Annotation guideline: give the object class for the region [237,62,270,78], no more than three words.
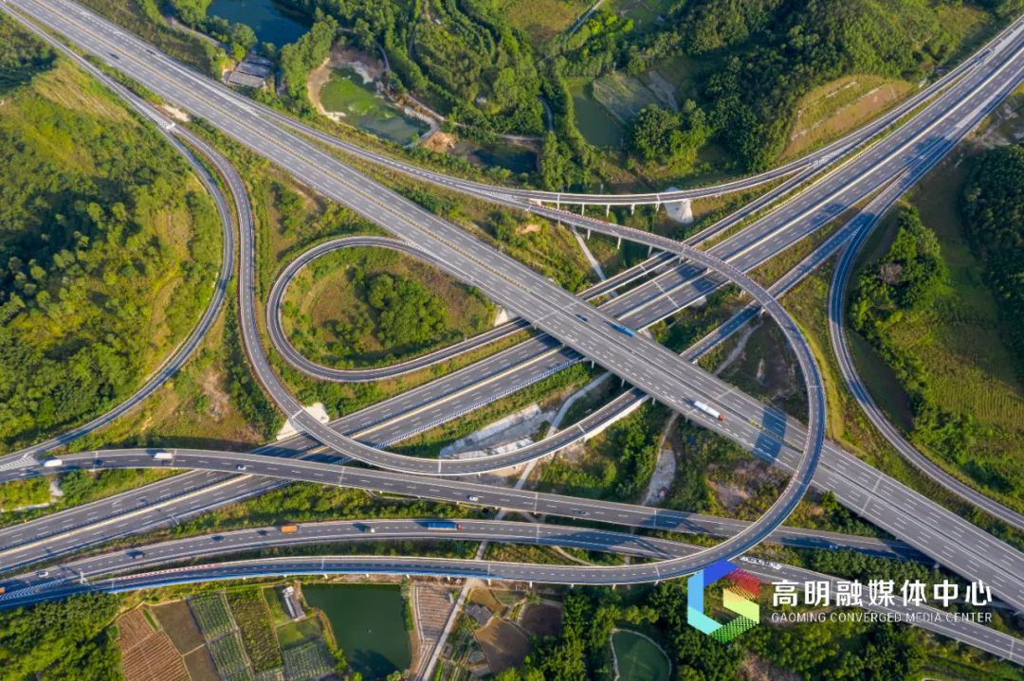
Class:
shed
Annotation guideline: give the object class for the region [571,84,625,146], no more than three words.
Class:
pond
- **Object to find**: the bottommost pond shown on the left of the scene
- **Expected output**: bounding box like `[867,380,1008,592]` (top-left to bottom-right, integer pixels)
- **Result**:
[303,584,409,681]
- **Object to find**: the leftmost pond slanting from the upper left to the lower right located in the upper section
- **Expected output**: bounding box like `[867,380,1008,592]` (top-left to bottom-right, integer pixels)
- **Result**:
[319,68,425,144]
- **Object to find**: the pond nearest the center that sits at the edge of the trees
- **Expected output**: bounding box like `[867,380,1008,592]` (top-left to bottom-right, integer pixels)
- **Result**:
[456,140,538,173]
